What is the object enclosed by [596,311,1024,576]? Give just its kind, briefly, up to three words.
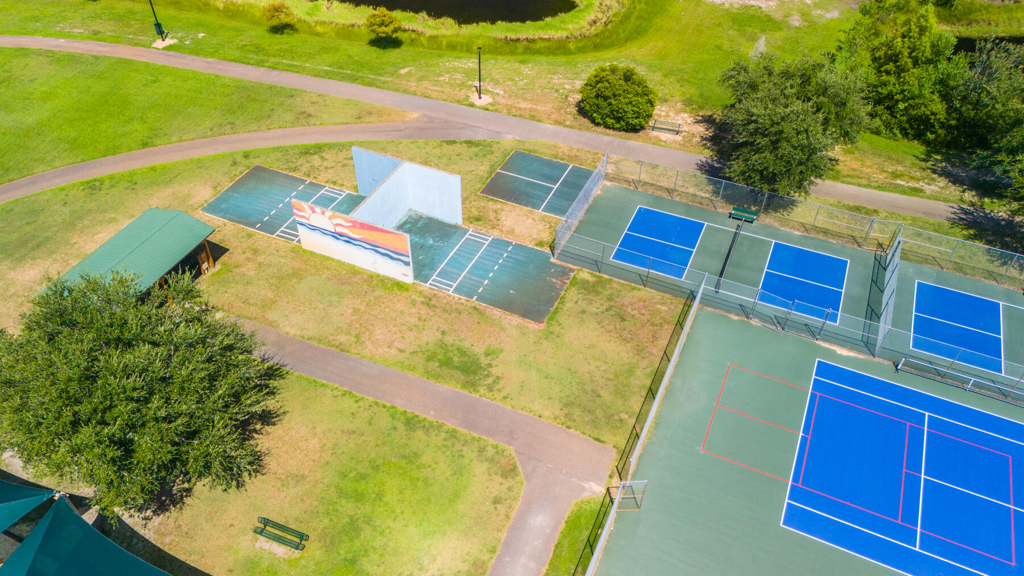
tennis court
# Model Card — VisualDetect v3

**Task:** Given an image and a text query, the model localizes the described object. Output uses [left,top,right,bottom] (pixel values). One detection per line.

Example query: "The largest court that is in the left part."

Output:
[200,165,575,324]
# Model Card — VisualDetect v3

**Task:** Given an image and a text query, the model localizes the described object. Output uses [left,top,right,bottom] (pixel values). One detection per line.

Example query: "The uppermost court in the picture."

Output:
[479,150,609,223]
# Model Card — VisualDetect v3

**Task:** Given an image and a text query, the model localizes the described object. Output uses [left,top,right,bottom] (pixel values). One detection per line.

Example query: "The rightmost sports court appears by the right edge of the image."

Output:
[874,257,1024,404]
